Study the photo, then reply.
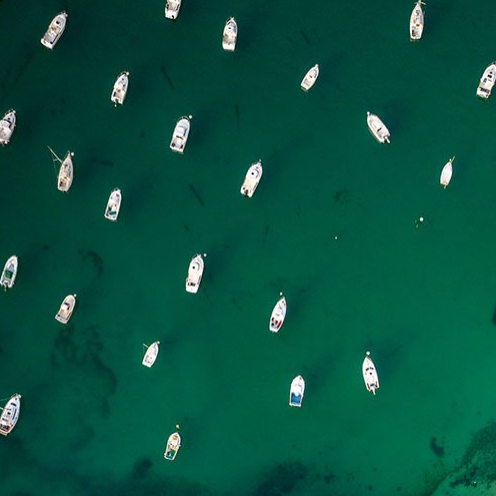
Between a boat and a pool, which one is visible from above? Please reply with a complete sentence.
This aerial view contains a boat.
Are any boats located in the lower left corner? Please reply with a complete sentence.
Yes, a boat can be seen in the lower left corner.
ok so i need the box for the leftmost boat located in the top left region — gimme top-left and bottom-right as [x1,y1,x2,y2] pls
[0,109,17,145]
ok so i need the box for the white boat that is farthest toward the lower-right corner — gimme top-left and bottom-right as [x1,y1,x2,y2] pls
[362,357,380,394]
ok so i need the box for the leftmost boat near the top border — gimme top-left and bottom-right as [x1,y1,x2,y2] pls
[42,12,68,51]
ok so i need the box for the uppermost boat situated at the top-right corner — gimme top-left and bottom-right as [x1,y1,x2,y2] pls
[410,0,426,43]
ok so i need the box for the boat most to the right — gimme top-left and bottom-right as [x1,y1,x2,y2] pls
[476,62,496,102]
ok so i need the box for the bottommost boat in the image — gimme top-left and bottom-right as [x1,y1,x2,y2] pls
[164,430,182,461]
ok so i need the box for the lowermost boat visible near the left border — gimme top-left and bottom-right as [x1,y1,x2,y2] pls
[0,394,22,436]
